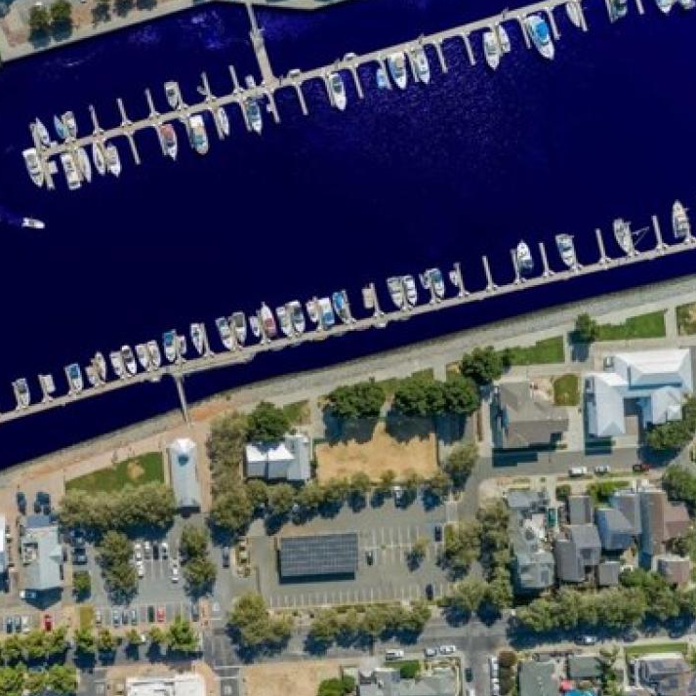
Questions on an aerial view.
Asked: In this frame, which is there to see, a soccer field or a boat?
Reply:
boat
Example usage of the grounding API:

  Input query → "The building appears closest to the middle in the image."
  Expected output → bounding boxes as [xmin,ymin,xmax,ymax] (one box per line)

[245,433,311,481]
